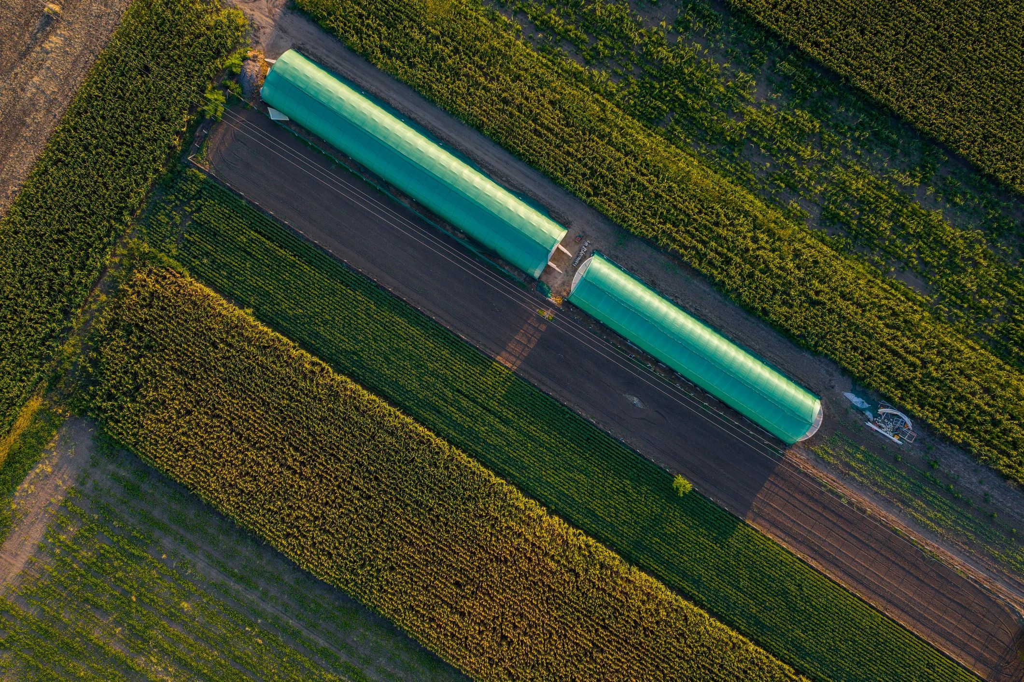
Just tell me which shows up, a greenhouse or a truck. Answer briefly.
greenhouse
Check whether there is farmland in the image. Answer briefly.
Yes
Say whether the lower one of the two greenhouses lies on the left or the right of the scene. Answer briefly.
right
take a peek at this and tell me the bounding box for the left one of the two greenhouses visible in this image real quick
[258,50,568,278]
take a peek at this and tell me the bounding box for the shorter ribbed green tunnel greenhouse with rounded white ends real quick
[562,252,823,446]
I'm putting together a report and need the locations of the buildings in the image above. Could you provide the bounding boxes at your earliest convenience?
[258,50,568,278]
[562,252,823,446]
